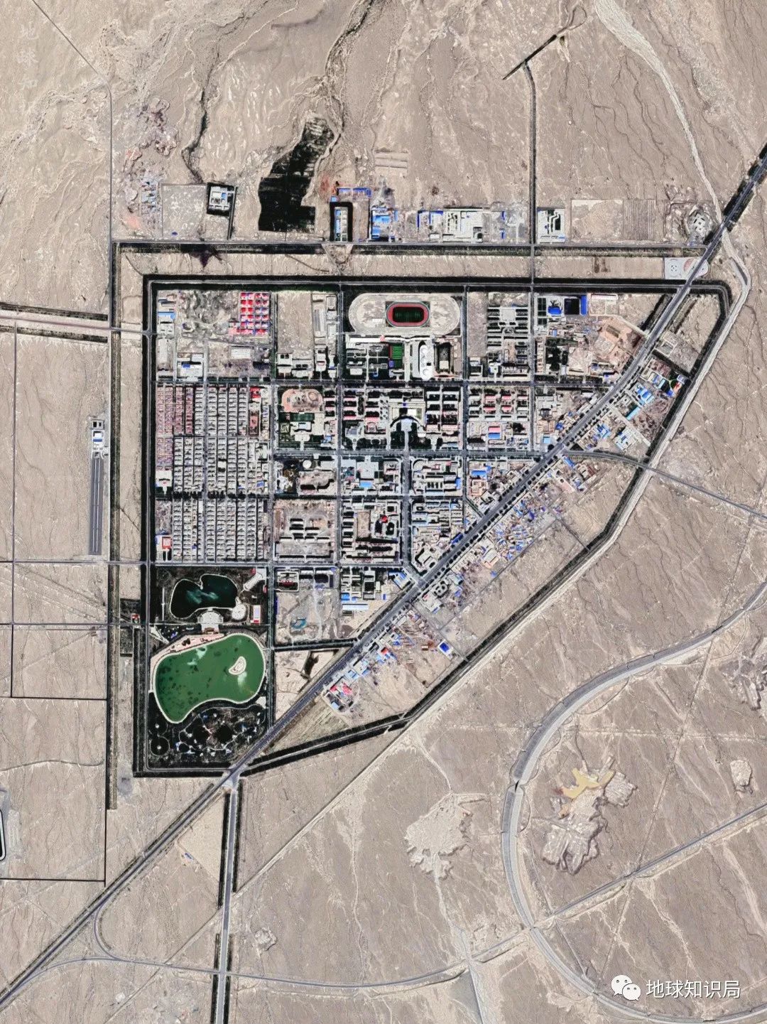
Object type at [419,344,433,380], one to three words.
building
